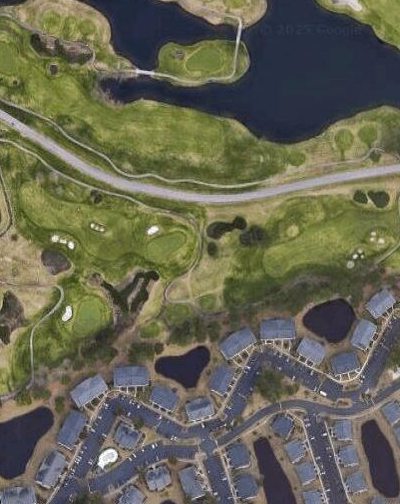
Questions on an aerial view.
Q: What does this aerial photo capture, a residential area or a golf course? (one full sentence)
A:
It's a golf course.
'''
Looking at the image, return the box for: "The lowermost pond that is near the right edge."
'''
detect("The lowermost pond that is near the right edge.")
[363,419,400,498]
